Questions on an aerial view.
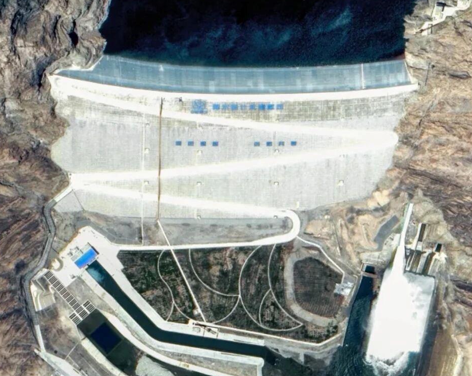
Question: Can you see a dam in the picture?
Yes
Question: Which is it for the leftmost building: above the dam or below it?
below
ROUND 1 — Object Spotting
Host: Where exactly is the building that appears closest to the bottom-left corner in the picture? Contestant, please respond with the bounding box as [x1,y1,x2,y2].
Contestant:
[72,244,100,270]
